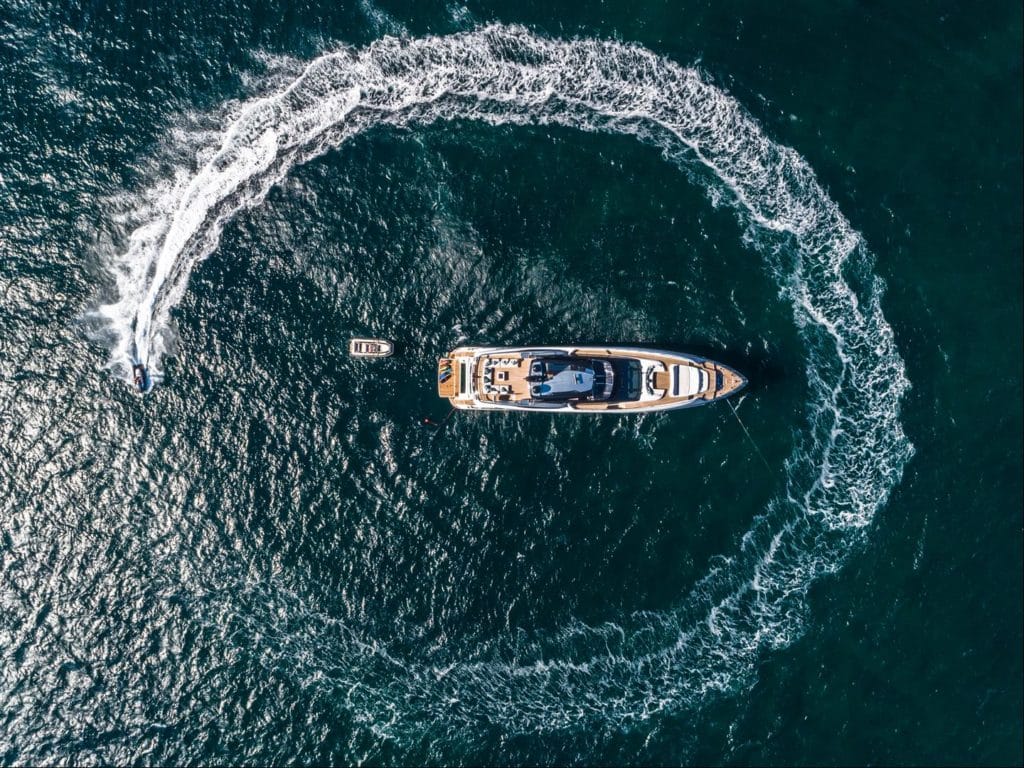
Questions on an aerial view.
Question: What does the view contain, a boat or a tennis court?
boat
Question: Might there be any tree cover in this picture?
No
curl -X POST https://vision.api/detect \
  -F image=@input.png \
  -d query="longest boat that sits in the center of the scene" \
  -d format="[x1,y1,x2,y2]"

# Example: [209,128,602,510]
[438,347,748,412]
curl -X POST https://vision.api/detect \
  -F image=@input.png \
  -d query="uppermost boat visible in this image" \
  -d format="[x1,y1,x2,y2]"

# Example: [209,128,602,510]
[350,339,393,357]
